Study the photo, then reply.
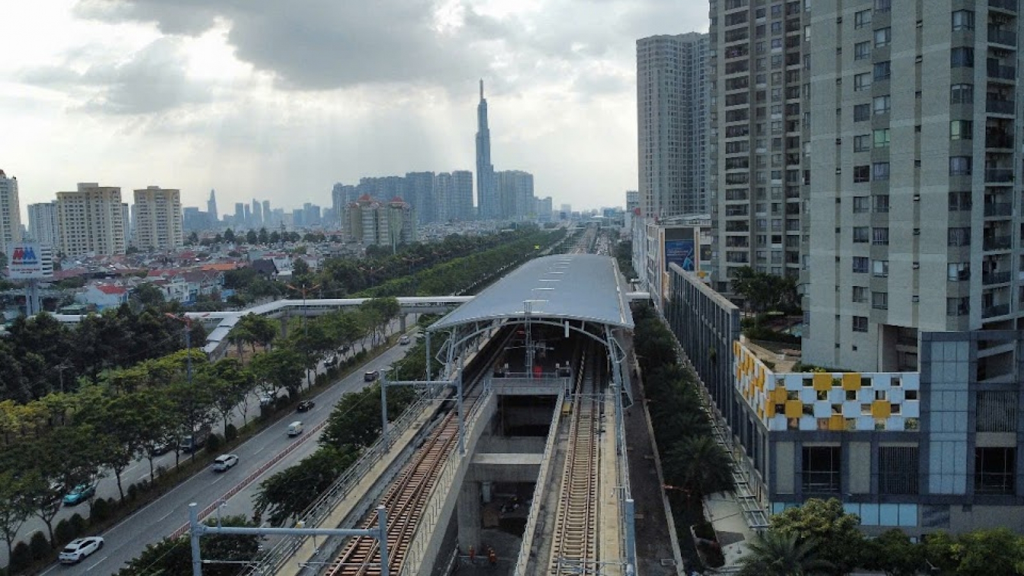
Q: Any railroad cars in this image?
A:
No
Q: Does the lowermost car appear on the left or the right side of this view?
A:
left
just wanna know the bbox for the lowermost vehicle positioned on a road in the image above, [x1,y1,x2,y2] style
[80,532,120,553]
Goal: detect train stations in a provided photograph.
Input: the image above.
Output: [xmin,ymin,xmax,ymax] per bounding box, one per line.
[428,253,637,445]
